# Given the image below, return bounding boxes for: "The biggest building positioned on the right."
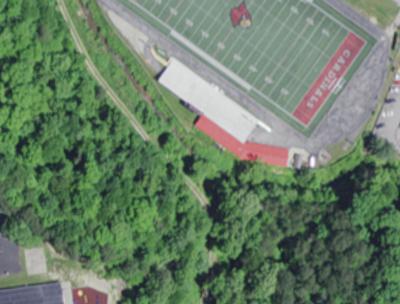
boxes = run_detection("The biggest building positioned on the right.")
[196,114,288,166]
